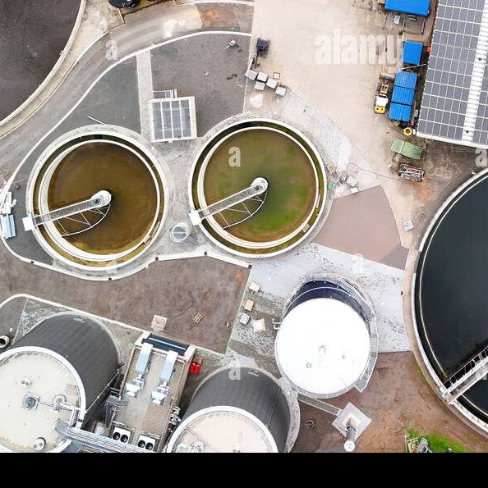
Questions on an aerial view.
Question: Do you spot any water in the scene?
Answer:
Yes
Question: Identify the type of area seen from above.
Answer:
industrial area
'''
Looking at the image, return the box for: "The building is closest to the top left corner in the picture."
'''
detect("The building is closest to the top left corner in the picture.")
[150,96,198,143]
